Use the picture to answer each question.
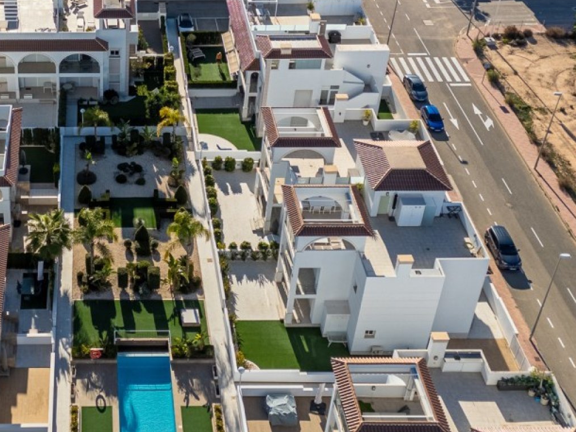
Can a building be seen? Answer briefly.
Yes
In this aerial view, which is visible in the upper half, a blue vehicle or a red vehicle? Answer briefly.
blue vehicle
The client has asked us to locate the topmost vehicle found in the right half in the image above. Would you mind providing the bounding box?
[402,68,430,99]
